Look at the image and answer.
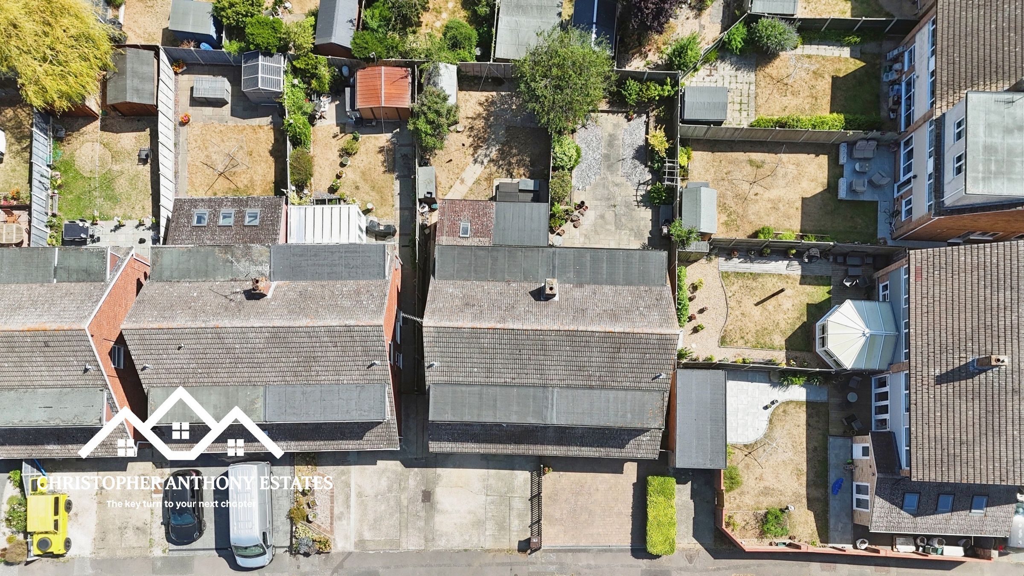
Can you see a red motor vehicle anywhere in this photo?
No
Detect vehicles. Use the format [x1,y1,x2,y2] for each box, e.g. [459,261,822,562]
[1000,483,1024,557]
[163,470,207,547]
[27,480,76,559]
[229,463,277,570]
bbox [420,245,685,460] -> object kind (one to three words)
house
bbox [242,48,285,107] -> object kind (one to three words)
building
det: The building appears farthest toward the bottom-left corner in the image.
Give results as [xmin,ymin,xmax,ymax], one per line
[0,241,153,453]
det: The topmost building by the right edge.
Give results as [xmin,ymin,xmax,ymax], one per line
[890,0,1024,240]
